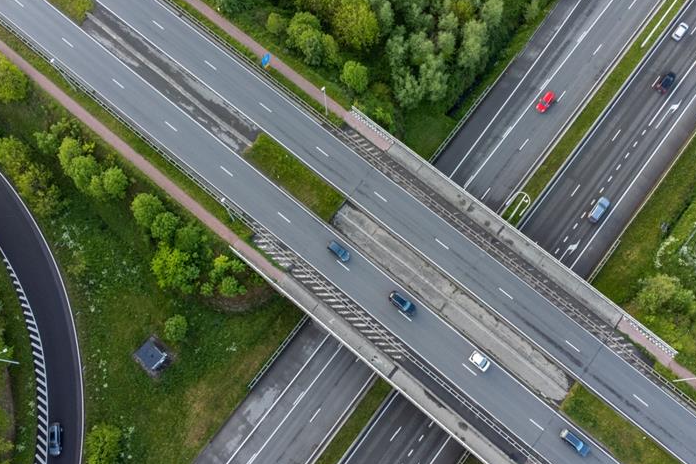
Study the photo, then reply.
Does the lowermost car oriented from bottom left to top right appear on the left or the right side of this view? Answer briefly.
right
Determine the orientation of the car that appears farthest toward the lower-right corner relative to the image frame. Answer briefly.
on a diagonal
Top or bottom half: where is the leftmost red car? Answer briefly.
top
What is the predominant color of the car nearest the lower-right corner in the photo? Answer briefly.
blue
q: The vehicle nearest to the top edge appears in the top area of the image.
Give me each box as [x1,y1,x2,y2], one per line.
[669,21,689,42]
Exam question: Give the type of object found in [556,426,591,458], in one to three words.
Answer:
car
